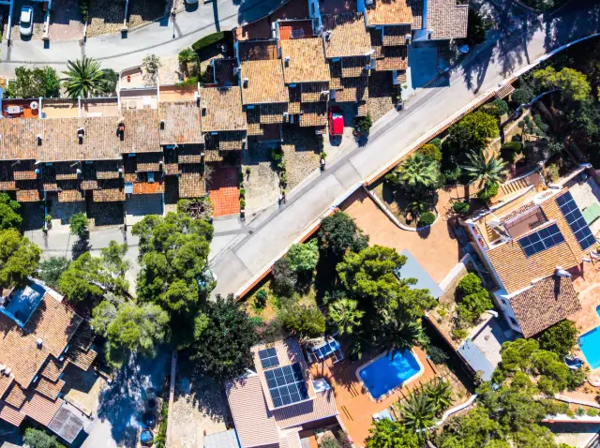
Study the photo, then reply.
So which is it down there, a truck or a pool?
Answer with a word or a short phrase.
pool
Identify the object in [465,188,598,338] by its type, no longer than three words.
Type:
house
